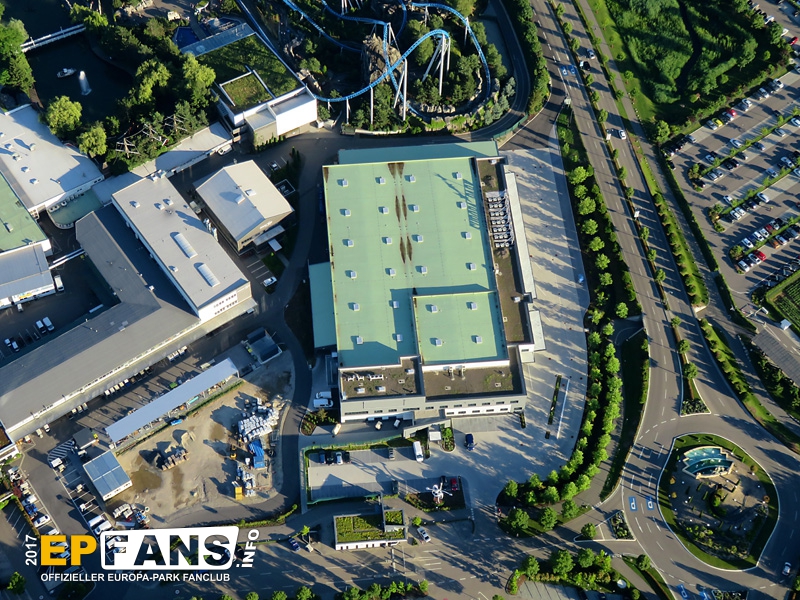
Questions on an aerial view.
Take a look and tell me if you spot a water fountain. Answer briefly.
Yes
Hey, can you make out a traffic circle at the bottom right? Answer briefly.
Yes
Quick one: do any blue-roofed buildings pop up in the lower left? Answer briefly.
Yes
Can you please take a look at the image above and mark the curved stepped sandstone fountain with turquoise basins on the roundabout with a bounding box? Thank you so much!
[682,446,737,480]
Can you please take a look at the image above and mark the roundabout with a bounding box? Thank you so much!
[656,431,780,571]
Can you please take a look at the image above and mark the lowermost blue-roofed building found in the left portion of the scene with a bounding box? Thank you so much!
[82,450,133,505]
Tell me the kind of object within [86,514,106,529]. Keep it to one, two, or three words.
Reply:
vehicle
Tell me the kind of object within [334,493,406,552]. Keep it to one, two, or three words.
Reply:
building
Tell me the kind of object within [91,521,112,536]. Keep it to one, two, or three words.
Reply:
vehicle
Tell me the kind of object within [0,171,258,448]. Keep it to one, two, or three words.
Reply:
building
